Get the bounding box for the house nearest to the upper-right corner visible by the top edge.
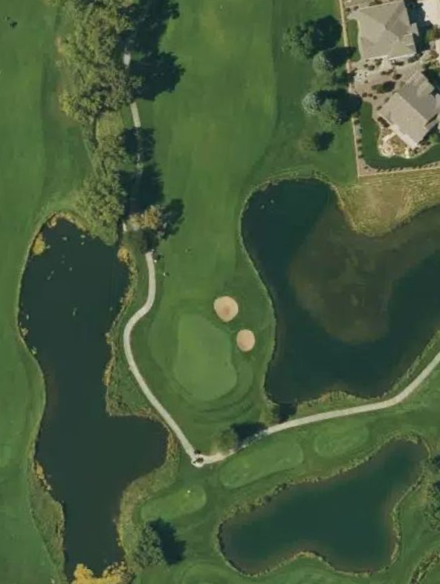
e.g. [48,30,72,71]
[356,0,420,60]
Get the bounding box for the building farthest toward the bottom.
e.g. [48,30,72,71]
[378,70,440,141]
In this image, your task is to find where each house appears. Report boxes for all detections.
[356,0,420,60]
[378,70,440,141]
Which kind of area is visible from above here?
golf course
